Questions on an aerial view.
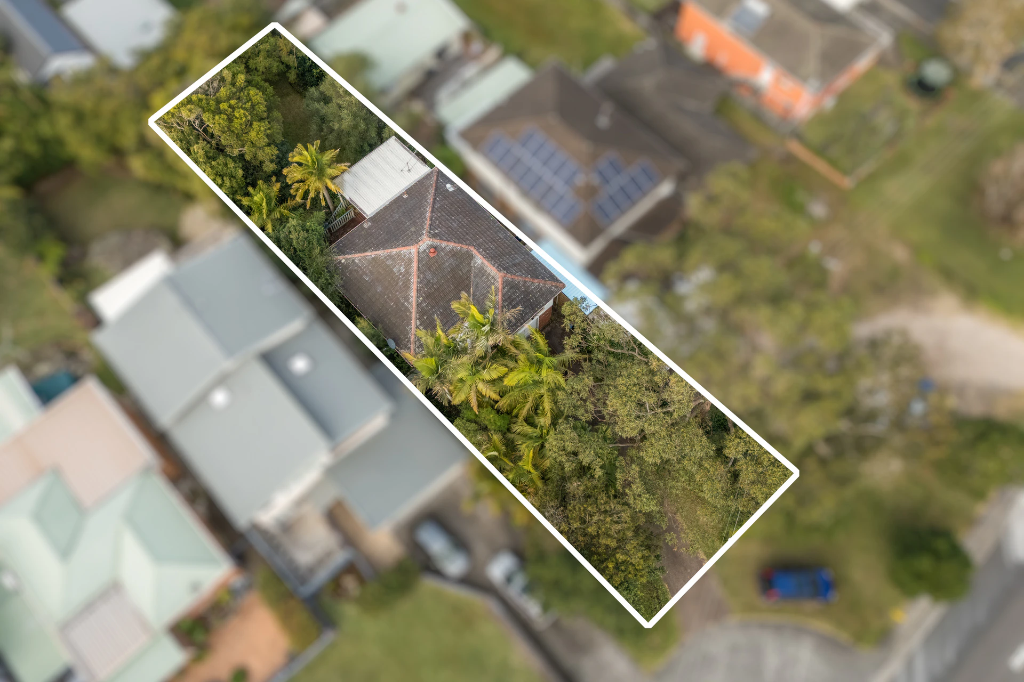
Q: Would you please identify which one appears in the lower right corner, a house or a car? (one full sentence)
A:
The one visible in the lower right corner is a car.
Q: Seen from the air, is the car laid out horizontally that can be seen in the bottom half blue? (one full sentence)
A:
Yes, the car laid out horizontally that can be seen in the bottom half appears blue.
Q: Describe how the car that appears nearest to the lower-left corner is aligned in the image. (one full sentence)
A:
What the image shows is the car that appears nearest to the lower-left corner lying diagonally.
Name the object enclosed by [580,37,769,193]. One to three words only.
house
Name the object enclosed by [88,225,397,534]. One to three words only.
house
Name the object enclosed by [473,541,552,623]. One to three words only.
vehicle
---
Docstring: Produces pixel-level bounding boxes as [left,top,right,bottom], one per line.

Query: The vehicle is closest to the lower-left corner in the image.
[407,511,475,586]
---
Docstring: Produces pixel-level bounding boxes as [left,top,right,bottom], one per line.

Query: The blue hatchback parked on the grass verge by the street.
[760,566,835,602]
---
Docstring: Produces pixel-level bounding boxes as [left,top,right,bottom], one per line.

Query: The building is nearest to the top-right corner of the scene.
[670,0,888,140]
